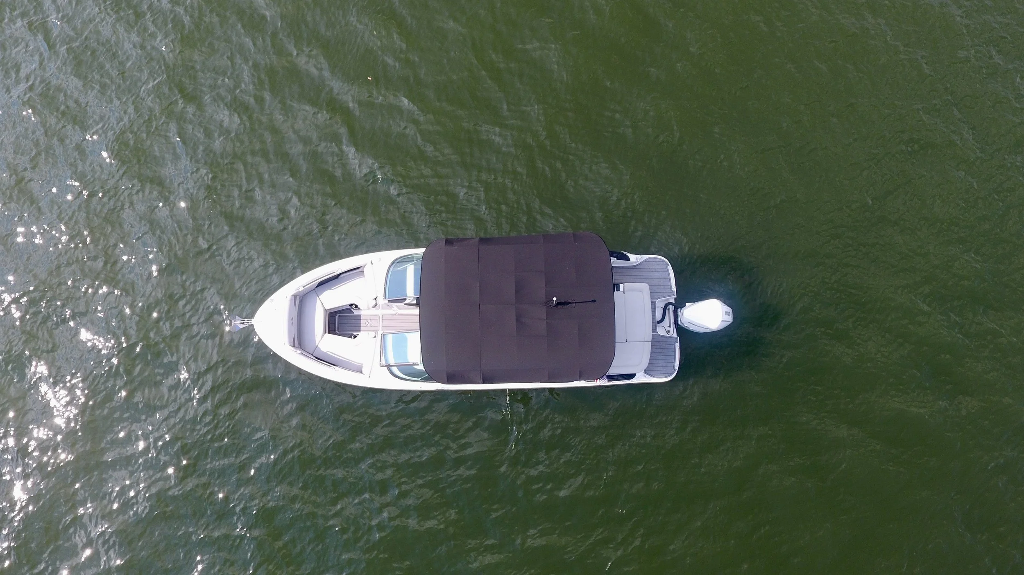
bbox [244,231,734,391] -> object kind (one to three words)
boat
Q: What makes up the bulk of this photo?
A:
water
